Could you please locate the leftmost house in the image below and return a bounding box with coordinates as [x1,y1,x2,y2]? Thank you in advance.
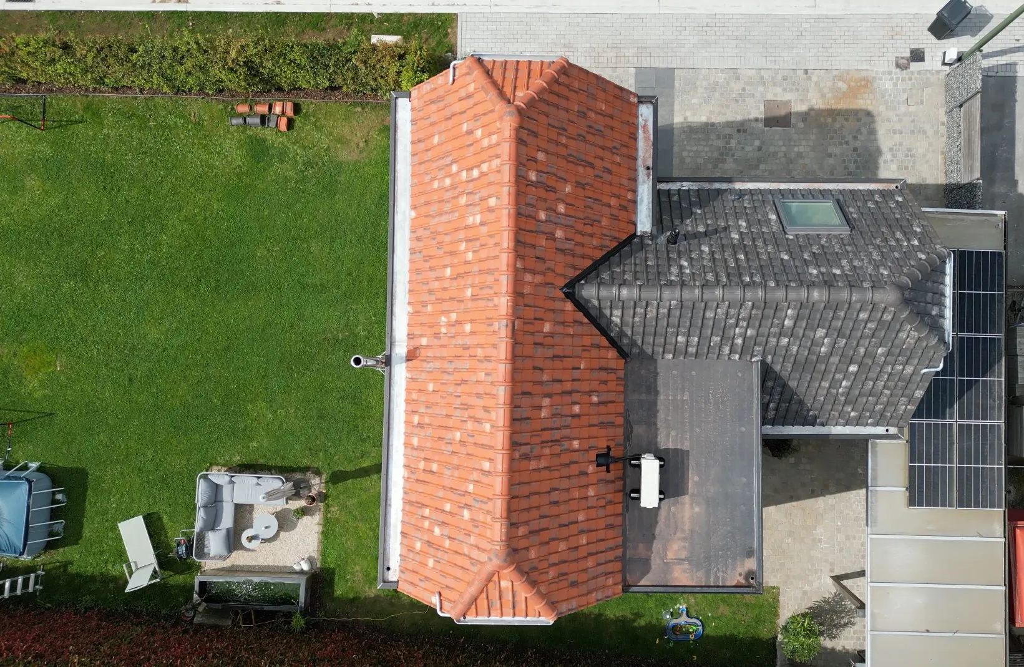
[351,48,656,628]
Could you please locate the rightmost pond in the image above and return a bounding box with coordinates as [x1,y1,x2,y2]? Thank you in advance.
[194,571,312,610]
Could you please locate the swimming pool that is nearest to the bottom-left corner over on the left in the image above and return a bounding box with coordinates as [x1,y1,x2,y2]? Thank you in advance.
[0,461,66,558]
